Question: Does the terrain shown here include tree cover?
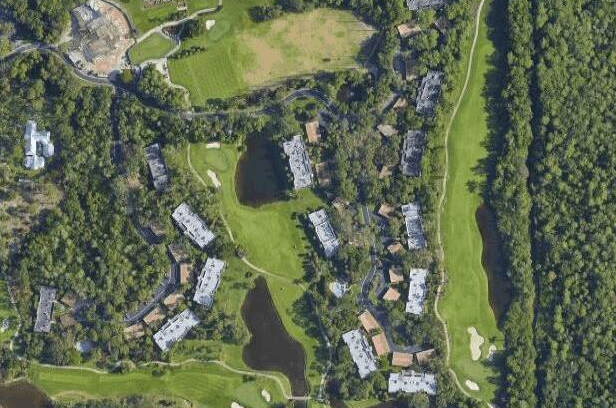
Yes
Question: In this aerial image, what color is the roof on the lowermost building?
white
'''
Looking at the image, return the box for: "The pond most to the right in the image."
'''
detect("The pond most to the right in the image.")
[477,202,512,327]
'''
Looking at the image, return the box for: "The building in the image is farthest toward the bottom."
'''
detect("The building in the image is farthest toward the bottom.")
[390,373,436,394]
